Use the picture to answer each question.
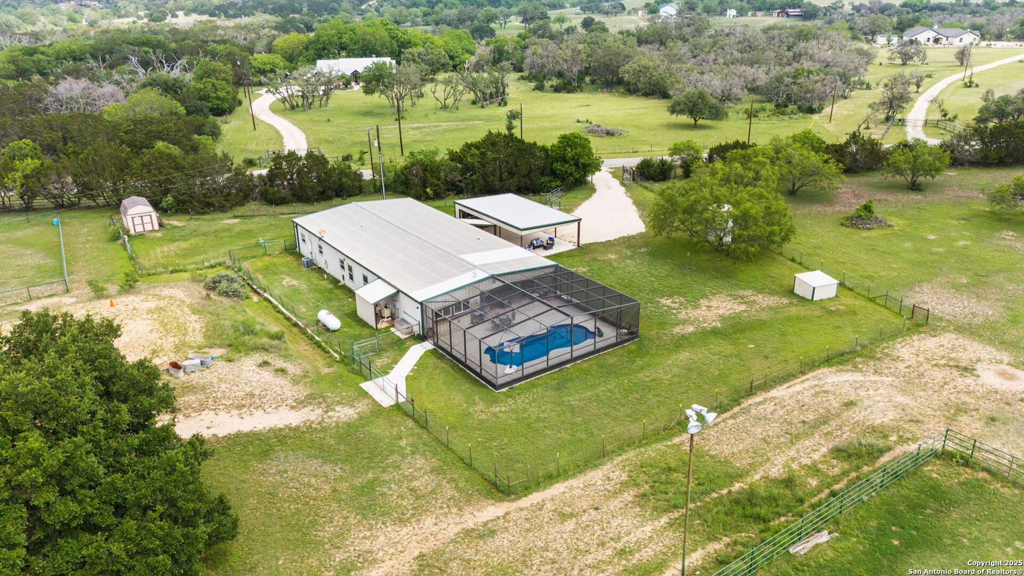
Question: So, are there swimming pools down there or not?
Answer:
Yes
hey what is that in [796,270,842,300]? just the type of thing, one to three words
shed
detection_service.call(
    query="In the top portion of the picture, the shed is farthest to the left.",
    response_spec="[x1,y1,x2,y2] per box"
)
[120,195,158,234]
